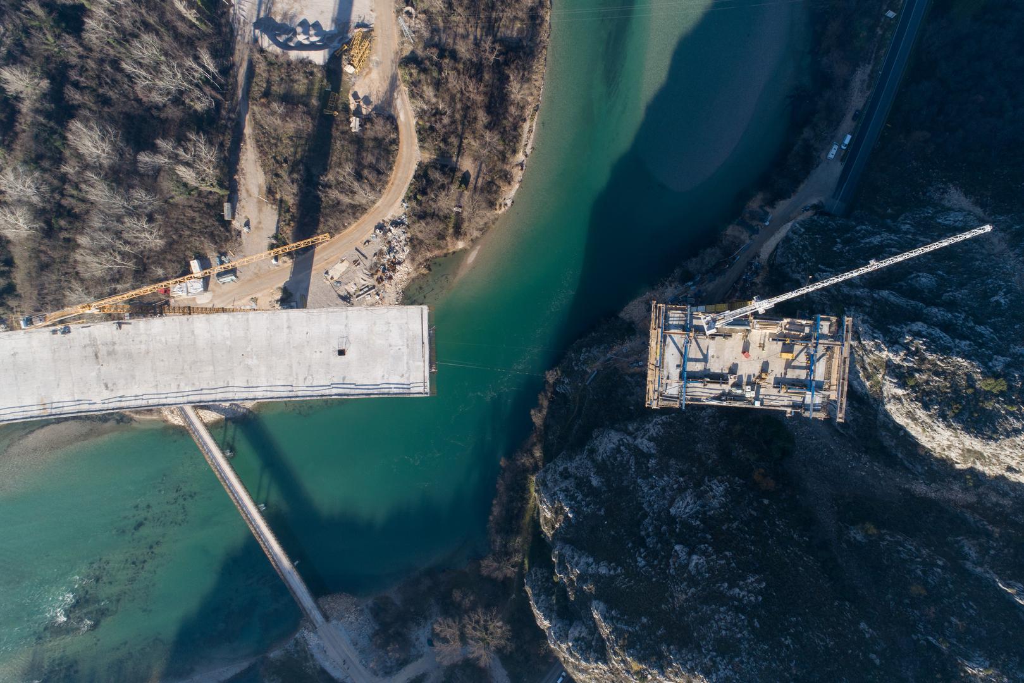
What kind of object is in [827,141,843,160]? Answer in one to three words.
vehicle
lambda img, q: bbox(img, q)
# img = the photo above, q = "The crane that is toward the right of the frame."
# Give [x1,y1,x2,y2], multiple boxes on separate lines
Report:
[655,222,996,335]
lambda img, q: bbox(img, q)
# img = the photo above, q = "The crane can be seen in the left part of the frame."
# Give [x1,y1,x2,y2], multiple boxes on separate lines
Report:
[21,232,330,331]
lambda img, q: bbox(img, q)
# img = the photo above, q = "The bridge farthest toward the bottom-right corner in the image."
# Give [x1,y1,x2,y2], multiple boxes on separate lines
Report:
[660,310,837,423]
